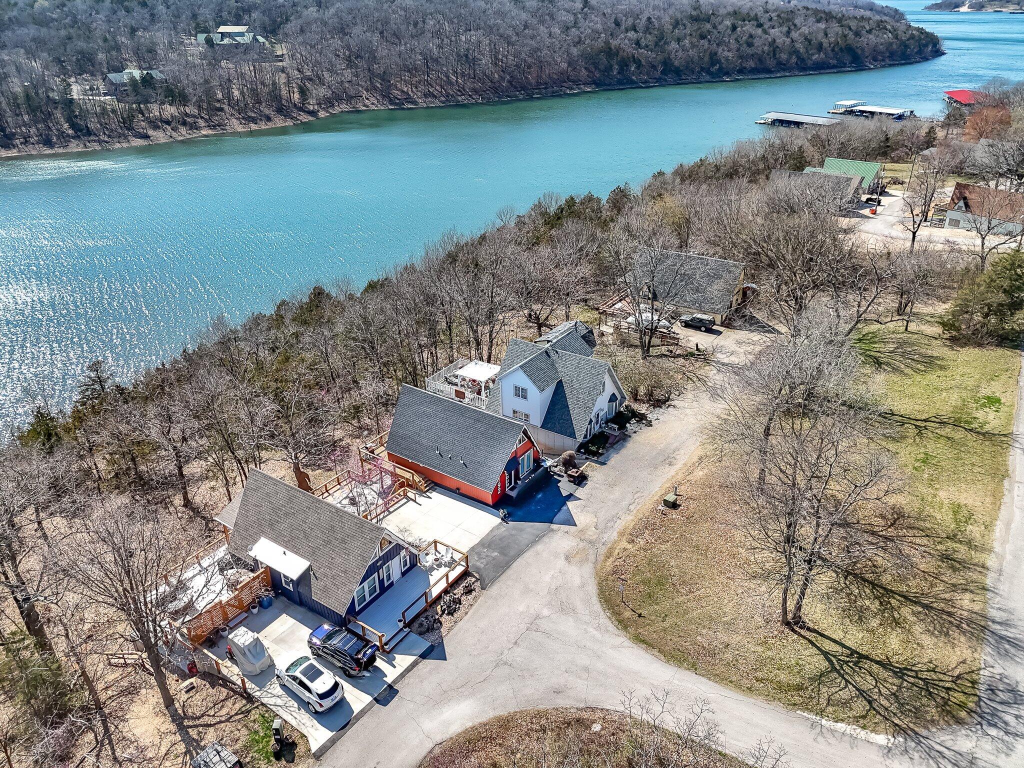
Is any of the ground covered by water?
Yes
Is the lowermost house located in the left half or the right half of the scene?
left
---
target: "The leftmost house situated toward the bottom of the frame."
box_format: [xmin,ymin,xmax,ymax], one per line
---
[206,466,433,622]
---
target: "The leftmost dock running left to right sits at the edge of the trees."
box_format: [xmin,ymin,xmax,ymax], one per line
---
[749,113,830,130]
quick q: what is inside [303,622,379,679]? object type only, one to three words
car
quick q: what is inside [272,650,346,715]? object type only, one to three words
car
